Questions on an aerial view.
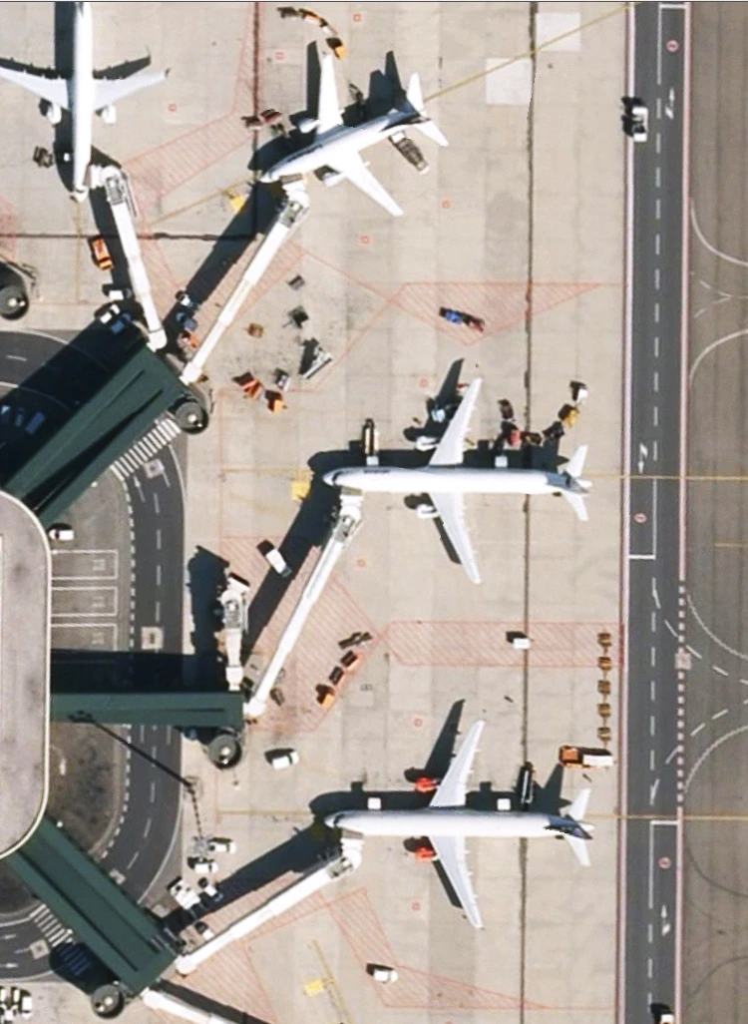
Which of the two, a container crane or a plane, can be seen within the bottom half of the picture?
plane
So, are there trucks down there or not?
Yes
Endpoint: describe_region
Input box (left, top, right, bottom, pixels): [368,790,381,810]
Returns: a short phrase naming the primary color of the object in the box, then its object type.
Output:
white vehicle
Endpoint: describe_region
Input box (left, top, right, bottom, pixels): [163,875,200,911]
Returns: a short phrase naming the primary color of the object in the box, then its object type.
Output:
white truck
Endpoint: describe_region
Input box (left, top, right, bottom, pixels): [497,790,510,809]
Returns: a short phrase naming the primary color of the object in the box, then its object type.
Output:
white vehicle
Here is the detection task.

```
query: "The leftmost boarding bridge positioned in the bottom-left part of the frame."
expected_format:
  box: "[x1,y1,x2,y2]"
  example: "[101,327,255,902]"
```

[133,986,219,1024]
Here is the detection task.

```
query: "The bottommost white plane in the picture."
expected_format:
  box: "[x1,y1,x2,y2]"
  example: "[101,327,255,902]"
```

[325,722,594,930]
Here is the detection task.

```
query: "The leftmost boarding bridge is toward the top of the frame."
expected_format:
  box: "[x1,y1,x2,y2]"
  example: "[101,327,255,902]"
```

[90,161,167,351]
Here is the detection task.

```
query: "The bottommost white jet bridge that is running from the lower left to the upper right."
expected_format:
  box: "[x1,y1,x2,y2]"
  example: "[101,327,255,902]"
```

[173,831,364,969]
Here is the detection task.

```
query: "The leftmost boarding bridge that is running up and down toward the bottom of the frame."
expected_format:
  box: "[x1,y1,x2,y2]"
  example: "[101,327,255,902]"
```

[218,569,248,686]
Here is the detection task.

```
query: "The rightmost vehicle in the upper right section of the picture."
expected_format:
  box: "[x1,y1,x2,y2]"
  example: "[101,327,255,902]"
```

[632,105,647,143]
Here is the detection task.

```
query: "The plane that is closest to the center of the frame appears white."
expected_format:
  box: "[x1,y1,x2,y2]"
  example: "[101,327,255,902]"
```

[325,378,596,590]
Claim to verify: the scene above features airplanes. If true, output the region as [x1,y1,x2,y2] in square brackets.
[325,378,596,590]
[260,52,449,218]
[325,722,594,930]
[0,0,171,198]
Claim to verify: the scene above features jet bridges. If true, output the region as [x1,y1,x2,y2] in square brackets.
[243,488,360,711]
[133,986,219,1024]
[218,569,248,686]
[173,831,364,969]
[182,173,305,393]
[90,161,167,351]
